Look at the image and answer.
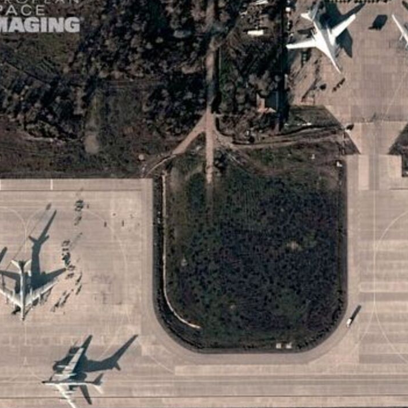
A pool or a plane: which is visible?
plane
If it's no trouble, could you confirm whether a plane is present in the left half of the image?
Yes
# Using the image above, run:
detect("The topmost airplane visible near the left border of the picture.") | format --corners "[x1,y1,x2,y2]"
[0,259,55,320]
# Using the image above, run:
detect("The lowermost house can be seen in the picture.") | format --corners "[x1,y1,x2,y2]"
[258,93,276,111]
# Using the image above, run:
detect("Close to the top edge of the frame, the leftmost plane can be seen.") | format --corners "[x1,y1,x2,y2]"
[287,8,356,73]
